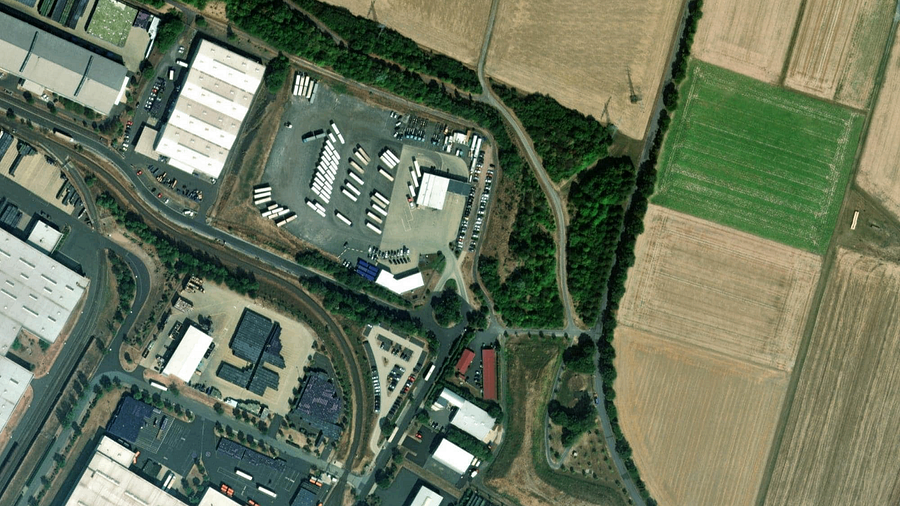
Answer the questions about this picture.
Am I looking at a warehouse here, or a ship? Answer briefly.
warehouse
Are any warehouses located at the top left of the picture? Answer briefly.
Yes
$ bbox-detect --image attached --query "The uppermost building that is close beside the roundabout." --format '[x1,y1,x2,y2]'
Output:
[375,270,424,295]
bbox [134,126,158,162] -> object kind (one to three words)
building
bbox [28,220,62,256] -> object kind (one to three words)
building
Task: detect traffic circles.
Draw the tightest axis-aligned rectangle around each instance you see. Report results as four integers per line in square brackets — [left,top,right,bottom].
[422,286,472,334]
